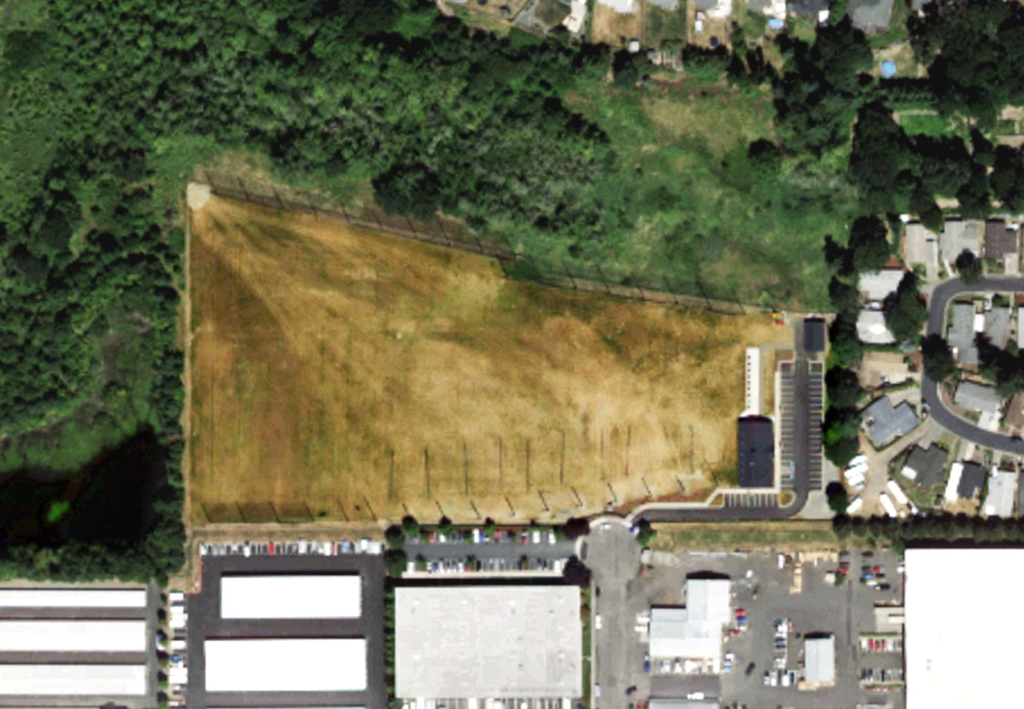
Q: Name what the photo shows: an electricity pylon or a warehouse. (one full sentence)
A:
Of the two, only a warehouse appears.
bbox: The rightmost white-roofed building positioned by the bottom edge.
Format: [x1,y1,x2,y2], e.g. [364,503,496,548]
[905,549,1024,709]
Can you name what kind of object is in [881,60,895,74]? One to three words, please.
swimming pool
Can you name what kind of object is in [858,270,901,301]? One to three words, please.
house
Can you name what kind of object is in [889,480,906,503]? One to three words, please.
camper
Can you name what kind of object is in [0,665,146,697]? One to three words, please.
building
